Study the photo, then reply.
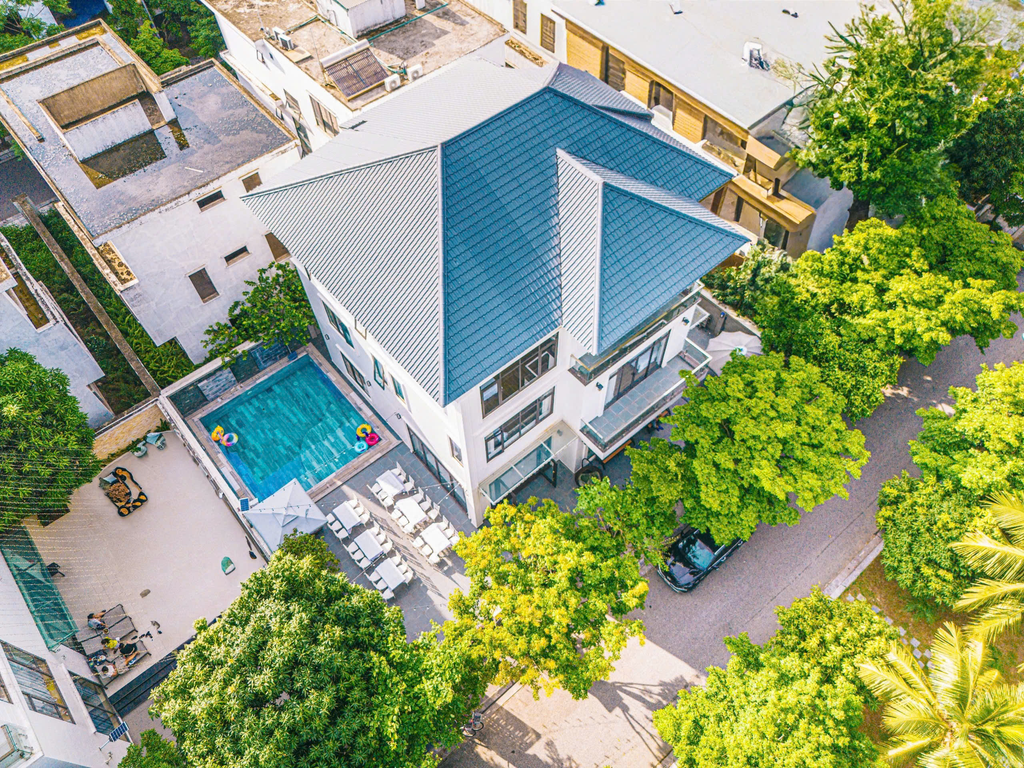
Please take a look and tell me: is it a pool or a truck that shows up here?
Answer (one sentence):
I can see a pool in this picture.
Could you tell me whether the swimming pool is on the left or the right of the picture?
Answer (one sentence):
The swimming pool sits on the left side.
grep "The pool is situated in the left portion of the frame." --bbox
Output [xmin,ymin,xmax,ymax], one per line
[185,344,402,507]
